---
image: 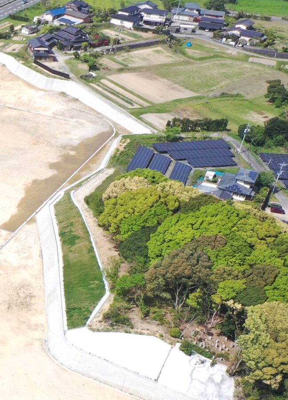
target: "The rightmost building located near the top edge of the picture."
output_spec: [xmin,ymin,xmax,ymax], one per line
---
[226,19,266,41]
